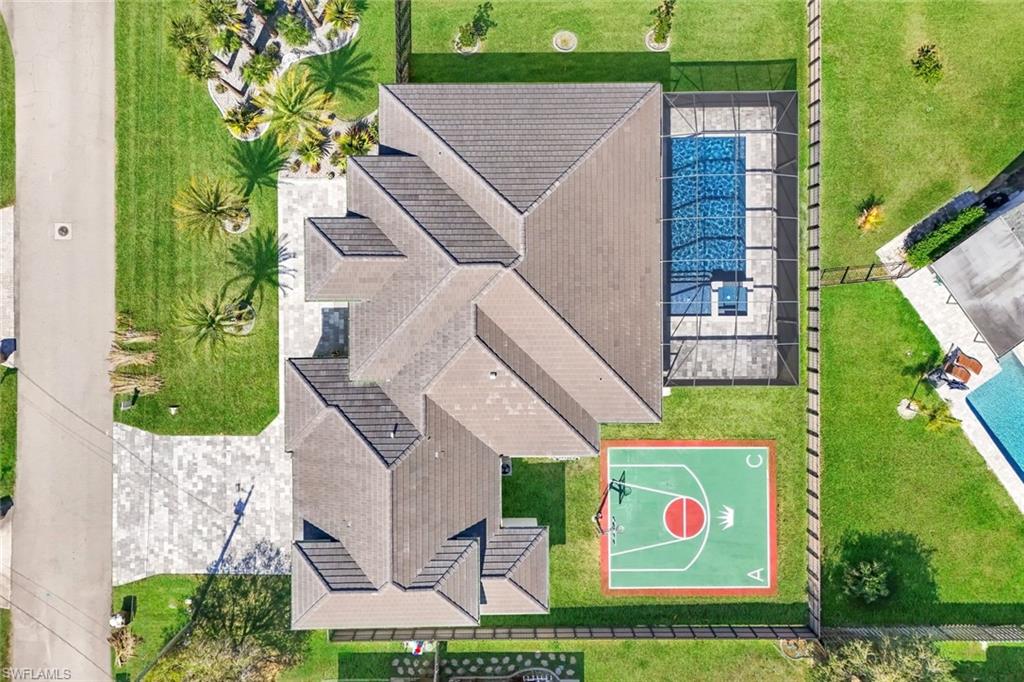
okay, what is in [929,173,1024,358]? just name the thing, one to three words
house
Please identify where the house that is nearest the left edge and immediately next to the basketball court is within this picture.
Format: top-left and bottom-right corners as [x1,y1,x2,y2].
[284,83,663,630]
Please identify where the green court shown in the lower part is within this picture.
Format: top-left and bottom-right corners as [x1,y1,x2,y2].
[601,440,777,596]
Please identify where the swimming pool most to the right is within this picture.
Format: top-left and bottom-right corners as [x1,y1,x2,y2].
[962,337,1024,484]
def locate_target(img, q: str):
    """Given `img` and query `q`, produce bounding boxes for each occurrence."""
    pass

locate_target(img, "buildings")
[284,83,663,630]
[929,173,1024,358]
